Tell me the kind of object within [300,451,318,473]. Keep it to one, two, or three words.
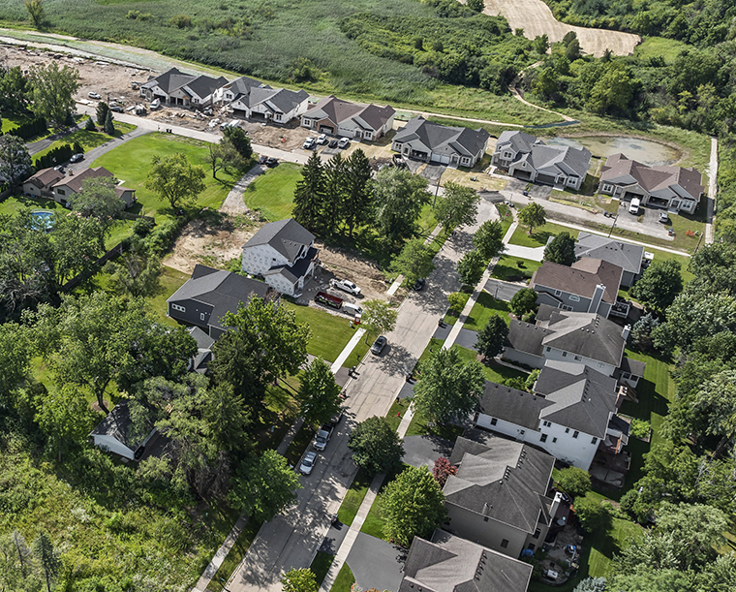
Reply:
car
